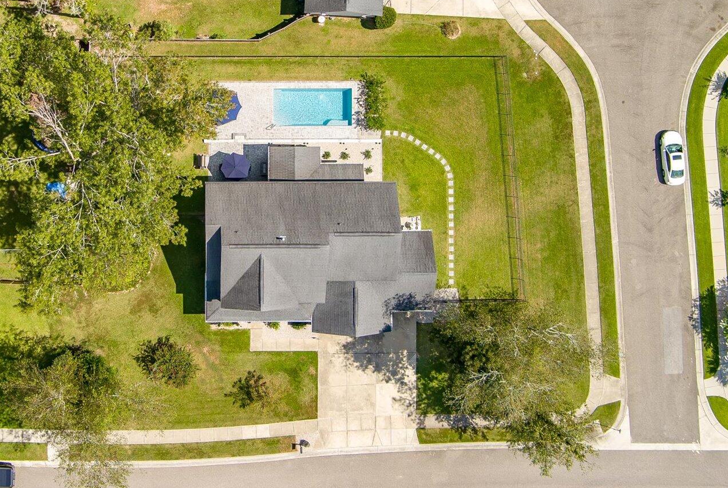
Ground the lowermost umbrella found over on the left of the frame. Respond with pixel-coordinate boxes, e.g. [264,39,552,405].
[221,150,250,180]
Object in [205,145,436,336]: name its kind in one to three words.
house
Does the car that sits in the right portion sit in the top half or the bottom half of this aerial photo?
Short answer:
top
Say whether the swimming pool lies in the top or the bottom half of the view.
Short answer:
top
